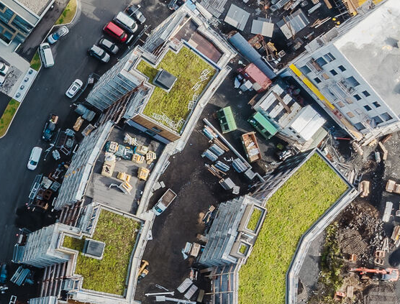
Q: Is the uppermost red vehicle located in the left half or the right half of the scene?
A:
left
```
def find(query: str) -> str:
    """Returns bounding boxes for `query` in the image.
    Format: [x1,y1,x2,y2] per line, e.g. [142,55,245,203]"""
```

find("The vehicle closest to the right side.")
[345,266,398,283]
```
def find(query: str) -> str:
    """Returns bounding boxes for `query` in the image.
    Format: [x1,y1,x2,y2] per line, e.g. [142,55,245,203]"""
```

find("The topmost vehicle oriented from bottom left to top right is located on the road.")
[47,24,67,45]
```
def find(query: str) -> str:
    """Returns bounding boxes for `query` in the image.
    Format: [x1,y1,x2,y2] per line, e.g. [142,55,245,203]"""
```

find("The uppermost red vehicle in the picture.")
[103,20,127,43]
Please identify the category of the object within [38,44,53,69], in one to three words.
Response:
vehicle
